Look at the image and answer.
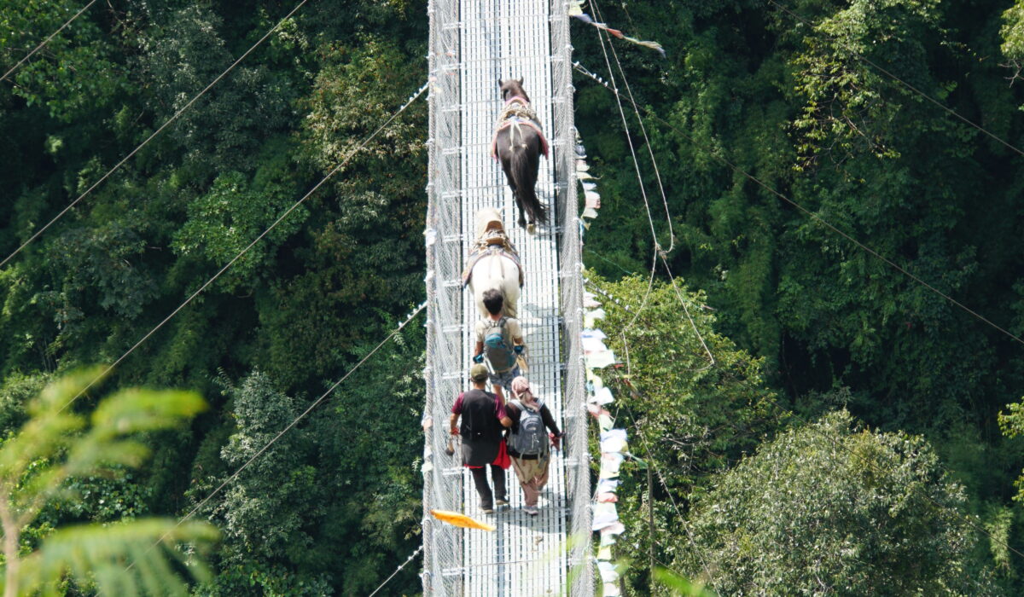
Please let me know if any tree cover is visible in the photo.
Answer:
Yes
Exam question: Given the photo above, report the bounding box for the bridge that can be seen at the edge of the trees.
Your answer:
[422,0,594,597]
